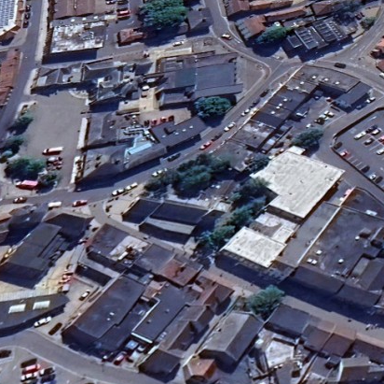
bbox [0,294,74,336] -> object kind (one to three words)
building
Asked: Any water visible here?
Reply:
No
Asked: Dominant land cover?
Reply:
buildings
